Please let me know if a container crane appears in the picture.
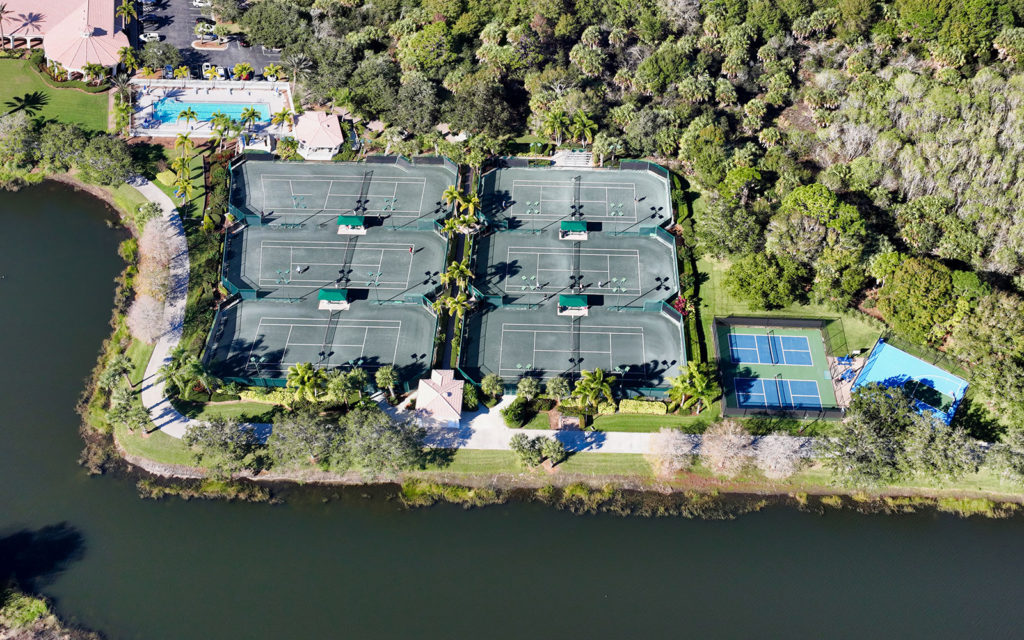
No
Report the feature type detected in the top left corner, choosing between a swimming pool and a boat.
swimming pool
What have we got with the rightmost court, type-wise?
basketball court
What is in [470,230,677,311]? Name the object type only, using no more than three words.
tennis court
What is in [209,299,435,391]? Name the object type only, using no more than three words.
tennis court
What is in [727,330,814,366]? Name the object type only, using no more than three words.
sports court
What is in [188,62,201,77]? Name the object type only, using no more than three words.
vehicle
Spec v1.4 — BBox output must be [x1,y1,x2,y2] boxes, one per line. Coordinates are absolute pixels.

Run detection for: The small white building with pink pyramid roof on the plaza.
[413,368,465,428]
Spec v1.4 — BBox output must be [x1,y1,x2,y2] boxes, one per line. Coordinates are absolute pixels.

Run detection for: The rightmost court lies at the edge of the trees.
[852,342,969,425]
